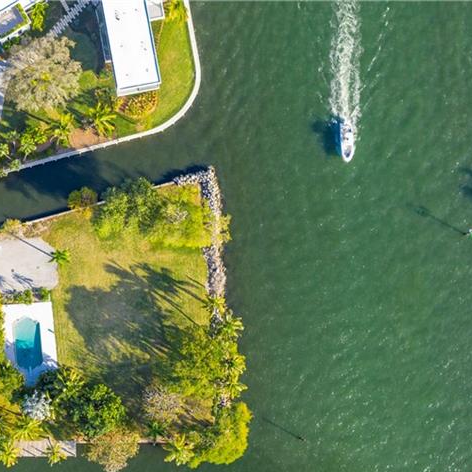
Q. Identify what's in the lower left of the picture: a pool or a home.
pool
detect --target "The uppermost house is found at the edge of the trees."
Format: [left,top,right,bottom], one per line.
[0,0,54,46]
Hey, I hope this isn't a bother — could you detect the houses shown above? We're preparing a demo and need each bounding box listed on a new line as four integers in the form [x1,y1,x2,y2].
[99,0,164,102]
[0,0,54,46]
